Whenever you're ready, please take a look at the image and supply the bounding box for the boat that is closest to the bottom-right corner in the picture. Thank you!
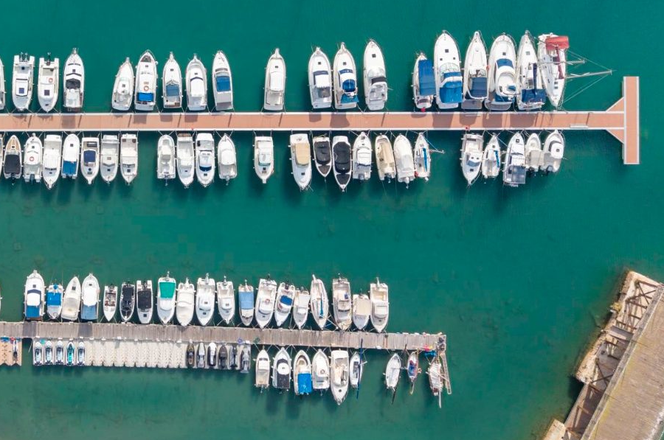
[427,350,442,394]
